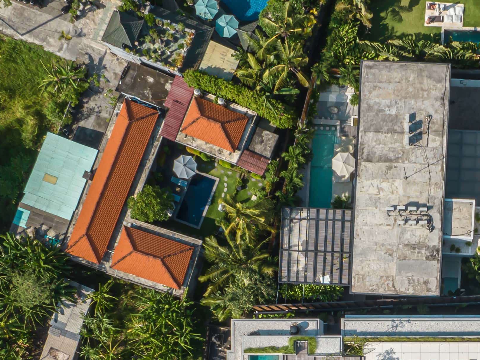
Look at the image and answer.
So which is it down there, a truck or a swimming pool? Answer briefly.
swimming pool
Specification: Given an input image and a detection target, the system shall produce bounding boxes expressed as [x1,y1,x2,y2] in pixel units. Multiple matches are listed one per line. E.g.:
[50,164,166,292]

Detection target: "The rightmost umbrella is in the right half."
[333,153,355,176]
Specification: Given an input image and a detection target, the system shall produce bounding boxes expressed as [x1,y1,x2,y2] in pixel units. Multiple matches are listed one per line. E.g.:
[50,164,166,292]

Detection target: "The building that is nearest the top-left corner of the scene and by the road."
[101,9,144,48]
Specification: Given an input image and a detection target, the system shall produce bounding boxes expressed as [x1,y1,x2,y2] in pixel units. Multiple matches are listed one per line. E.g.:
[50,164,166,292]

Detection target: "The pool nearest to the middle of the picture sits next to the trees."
[169,172,222,232]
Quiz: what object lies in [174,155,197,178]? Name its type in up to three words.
umbrella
